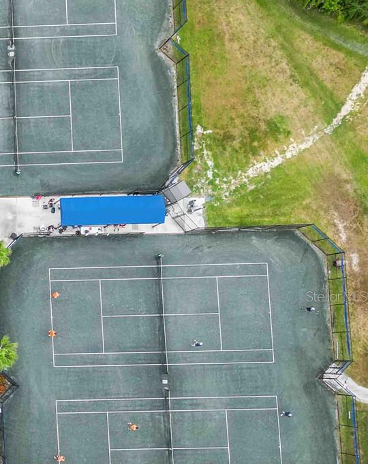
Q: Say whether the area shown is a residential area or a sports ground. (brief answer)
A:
sports ground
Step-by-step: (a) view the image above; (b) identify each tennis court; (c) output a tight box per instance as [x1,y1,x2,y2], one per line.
[0,0,172,50]
[0,48,179,195]
[6,377,341,464]
[0,231,330,385]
